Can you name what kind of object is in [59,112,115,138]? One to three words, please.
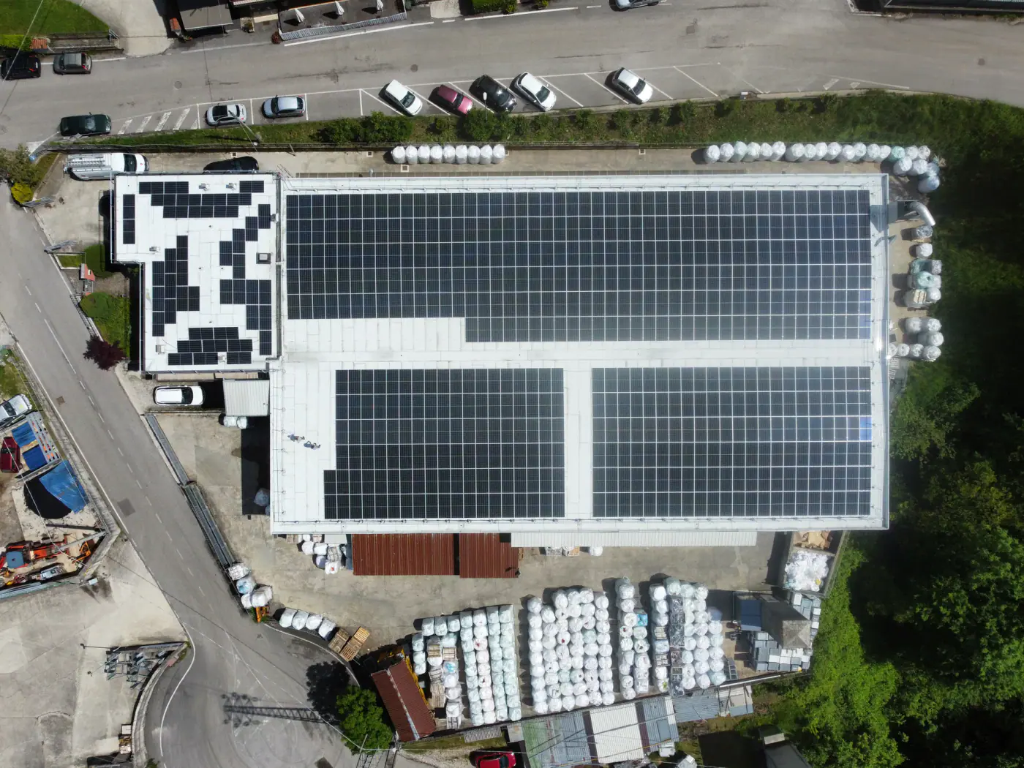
car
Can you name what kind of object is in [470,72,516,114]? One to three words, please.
car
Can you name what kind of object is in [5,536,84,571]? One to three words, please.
work vehicle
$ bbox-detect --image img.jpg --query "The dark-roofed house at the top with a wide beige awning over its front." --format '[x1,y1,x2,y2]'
[158,0,251,40]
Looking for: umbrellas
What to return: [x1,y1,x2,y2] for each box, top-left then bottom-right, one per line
[294,9,305,24]
[335,1,345,17]
[374,0,383,12]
